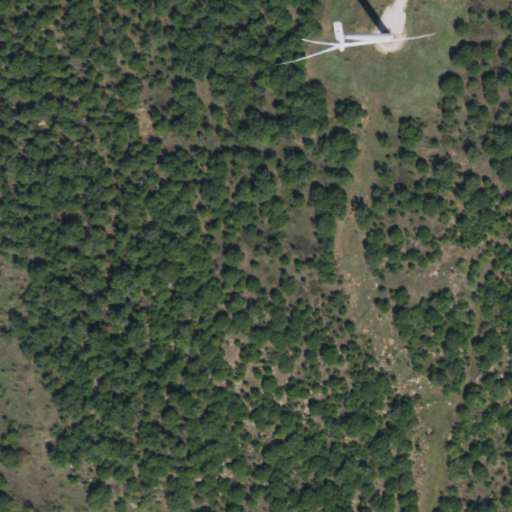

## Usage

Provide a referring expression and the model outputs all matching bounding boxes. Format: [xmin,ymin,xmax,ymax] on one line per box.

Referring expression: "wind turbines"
[280,20,436,64]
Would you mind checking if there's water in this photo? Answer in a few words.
No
